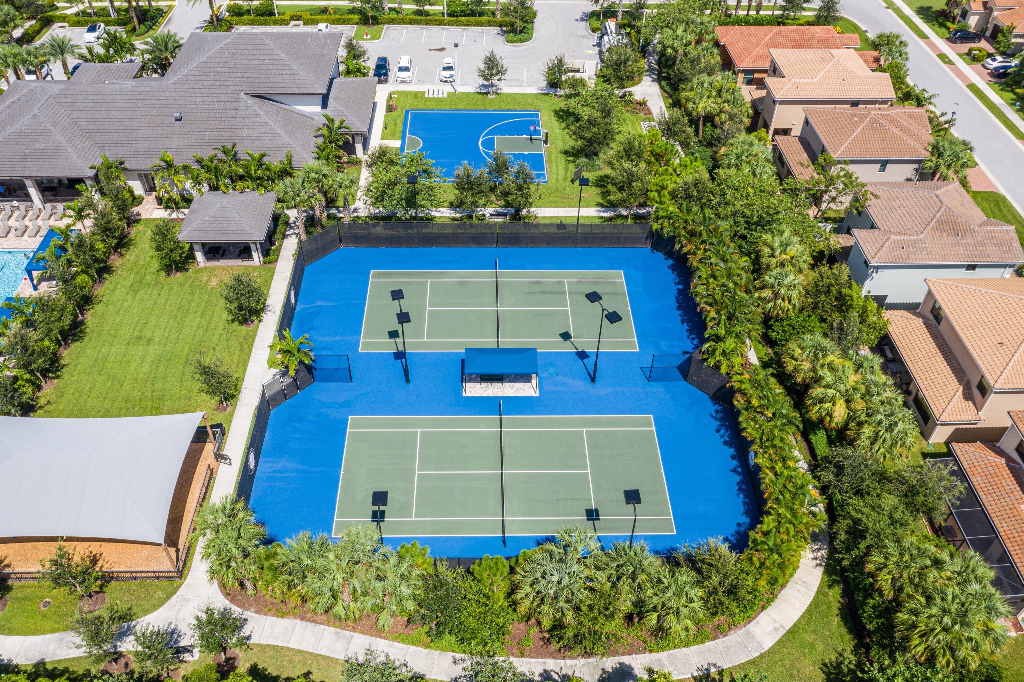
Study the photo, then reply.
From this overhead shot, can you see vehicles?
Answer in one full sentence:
Yes, there is a vehicle in the image.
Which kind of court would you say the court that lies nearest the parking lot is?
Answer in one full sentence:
I'd identify the court that lies nearest the parking lot as a basketball court.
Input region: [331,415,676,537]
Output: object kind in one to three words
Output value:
tennis court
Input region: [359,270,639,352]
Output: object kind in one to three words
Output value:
tennis court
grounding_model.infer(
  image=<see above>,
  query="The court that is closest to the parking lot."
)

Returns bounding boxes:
[398,109,548,183]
